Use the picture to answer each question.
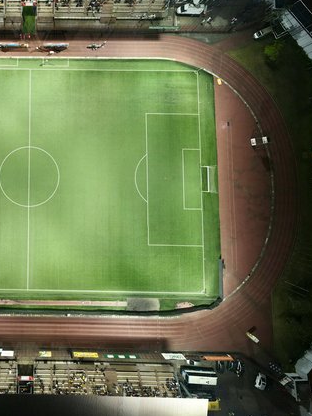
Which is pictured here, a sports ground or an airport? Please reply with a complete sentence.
It's a sports ground.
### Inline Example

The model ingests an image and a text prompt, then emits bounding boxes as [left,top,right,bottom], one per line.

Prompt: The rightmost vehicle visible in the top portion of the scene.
[255,29,274,41]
